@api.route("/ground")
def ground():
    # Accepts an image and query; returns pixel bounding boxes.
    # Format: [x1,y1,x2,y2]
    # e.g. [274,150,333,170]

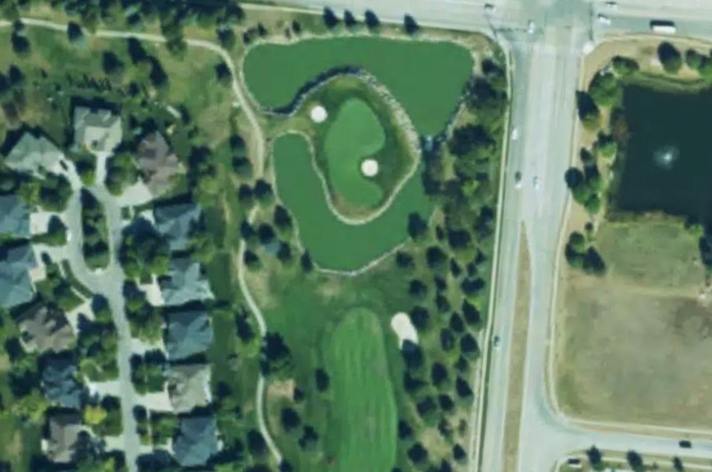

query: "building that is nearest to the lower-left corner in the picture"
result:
[48,416,86,463]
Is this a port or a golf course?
golf course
